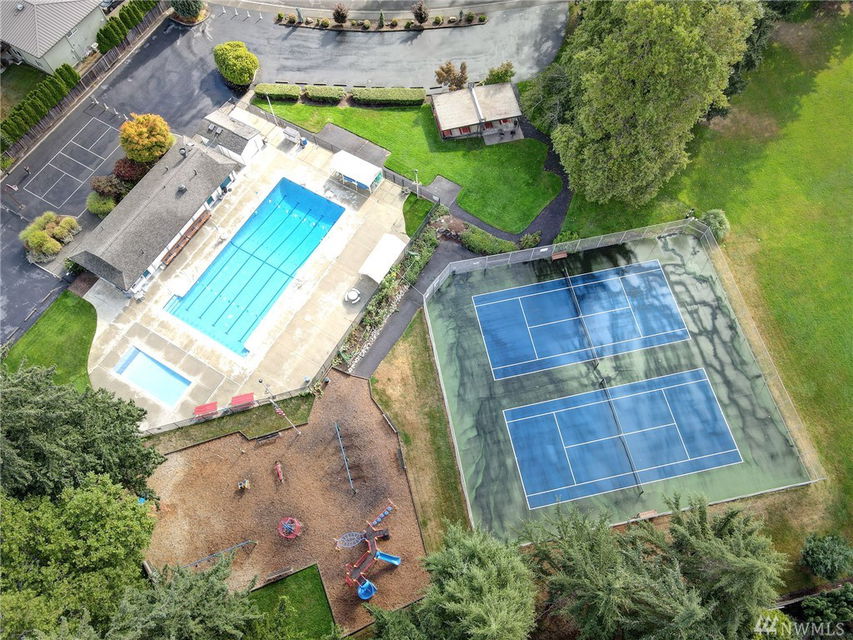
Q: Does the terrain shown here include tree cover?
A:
Yes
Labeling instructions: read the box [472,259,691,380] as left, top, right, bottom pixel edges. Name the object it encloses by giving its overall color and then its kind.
blue tennis court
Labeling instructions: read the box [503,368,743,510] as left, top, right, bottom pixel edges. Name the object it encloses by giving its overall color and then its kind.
blue tennis court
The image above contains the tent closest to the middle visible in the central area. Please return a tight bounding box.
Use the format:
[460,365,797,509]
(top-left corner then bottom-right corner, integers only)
[358,234,407,289]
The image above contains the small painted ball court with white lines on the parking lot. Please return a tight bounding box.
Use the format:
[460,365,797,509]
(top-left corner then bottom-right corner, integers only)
[17,112,122,212]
